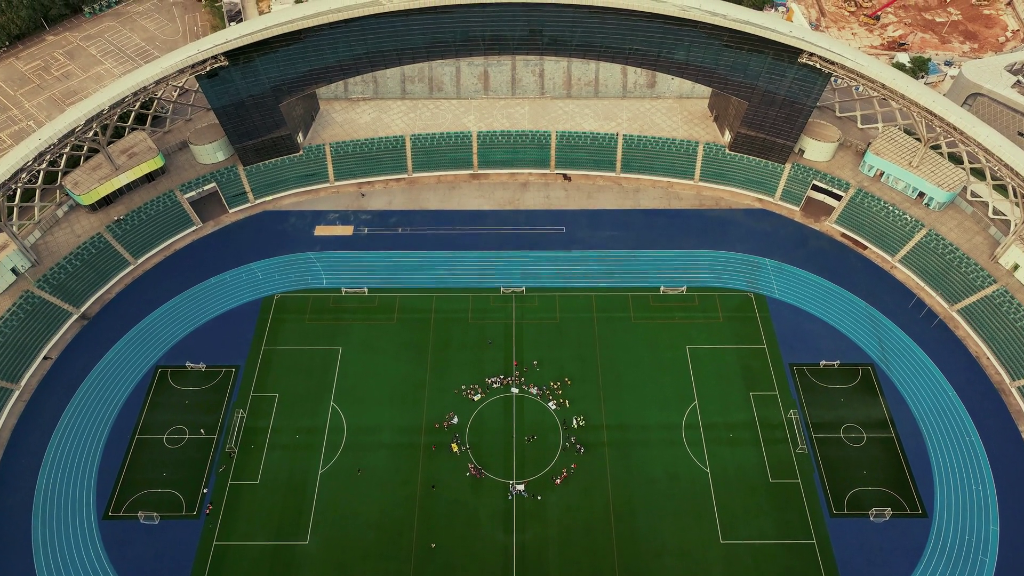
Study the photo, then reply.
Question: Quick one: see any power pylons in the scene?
No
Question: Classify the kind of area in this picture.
sports ground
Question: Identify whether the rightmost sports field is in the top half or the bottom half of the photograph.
bottom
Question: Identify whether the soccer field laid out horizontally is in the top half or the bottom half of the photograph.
bottom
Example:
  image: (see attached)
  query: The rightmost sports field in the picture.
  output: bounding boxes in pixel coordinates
[789,363,928,518]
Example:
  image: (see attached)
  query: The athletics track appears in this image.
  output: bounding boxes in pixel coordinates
[0,209,1024,576]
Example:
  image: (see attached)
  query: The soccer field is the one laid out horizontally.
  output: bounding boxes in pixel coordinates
[191,286,841,576]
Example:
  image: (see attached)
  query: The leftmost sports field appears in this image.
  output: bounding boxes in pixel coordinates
[103,365,240,519]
